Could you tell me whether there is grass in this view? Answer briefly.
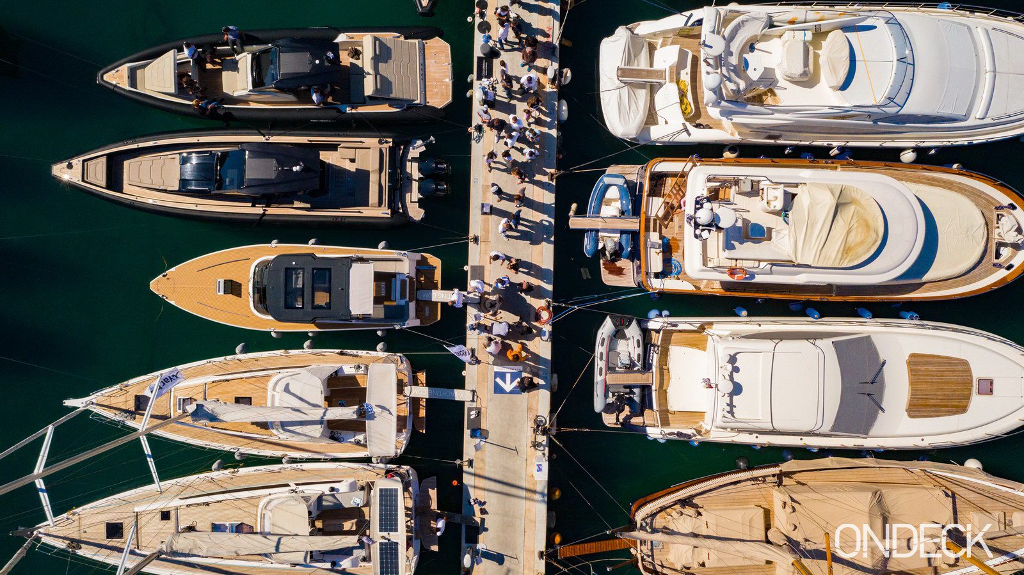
No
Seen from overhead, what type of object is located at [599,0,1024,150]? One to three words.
boat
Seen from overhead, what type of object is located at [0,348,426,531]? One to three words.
boat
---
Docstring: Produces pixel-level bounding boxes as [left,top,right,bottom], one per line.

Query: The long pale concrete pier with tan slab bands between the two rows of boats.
[461,0,560,575]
